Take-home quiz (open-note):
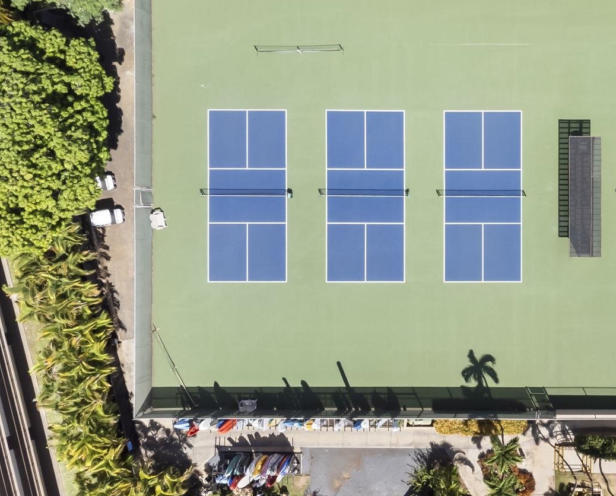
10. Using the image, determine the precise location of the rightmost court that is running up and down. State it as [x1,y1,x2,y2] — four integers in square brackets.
[444,110,522,282]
